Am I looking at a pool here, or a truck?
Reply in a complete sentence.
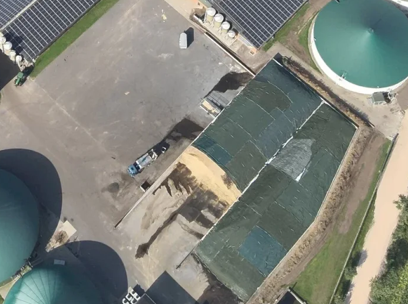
The one in the frame is a truck.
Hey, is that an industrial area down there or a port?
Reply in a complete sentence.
The picture captures an industrial area.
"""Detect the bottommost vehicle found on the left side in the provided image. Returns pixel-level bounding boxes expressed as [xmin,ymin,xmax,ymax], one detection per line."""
[126,145,168,180]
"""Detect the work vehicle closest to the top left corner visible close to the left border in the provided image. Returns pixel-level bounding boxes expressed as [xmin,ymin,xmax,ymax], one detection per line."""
[11,69,25,91]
